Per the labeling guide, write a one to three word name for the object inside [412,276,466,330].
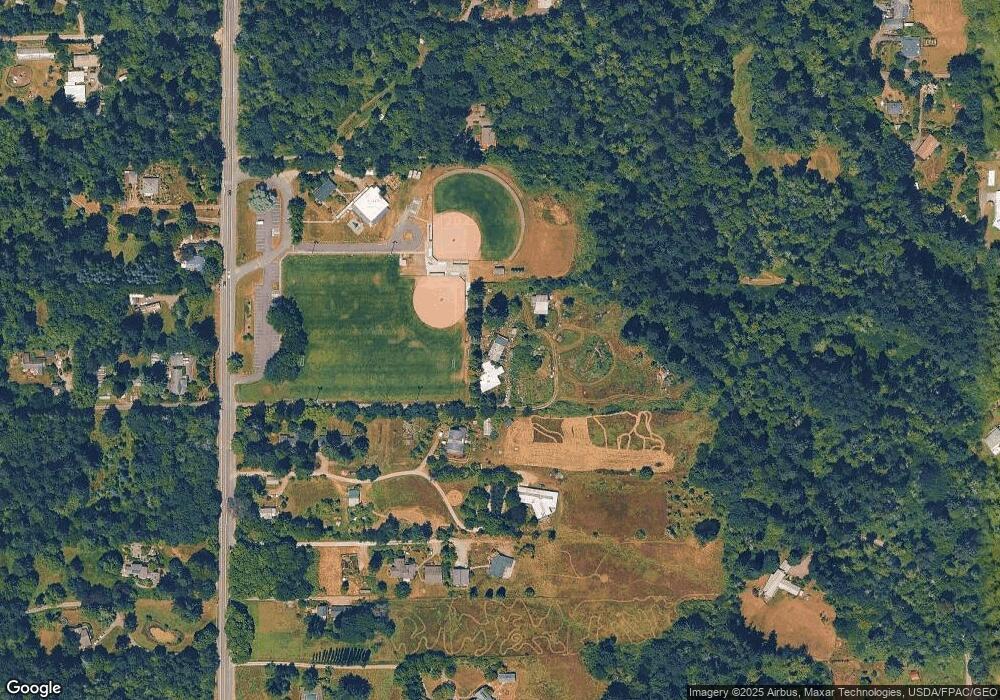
baseball field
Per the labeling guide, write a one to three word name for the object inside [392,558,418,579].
house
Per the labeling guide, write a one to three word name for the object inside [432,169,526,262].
baseball field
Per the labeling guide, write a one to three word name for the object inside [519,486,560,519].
building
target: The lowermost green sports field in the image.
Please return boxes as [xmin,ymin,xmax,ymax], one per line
[238,255,467,400]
